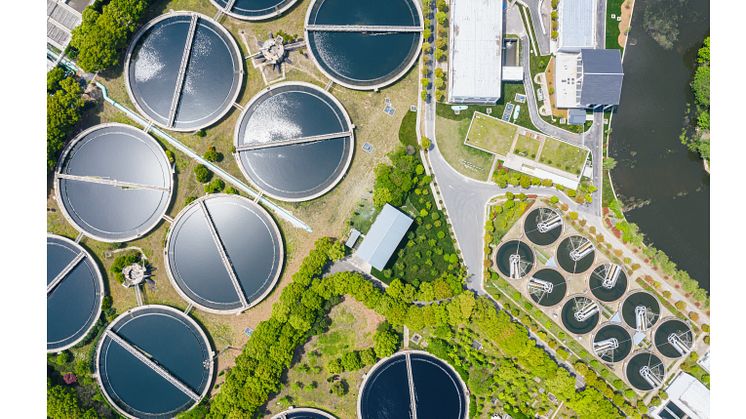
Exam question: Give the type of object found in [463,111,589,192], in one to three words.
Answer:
building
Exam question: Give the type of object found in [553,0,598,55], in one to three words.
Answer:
building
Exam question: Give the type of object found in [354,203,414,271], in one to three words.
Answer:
shed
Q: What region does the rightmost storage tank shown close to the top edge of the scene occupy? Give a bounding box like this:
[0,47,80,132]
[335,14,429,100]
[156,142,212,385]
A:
[303,0,425,91]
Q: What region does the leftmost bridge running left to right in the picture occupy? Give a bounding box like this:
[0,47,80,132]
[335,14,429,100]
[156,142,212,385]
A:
[52,173,175,192]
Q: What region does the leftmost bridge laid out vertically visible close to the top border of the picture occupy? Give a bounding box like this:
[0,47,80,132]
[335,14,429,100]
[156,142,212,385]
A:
[166,11,200,130]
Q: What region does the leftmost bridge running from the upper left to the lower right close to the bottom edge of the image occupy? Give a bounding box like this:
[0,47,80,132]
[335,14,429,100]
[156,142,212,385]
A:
[105,325,205,404]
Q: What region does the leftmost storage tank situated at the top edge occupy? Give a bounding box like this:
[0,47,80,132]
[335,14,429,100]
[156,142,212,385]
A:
[124,11,245,132]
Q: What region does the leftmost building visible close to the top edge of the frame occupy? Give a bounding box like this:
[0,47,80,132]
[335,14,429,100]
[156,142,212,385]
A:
[449,0,501,101]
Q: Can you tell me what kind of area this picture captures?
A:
industrial area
